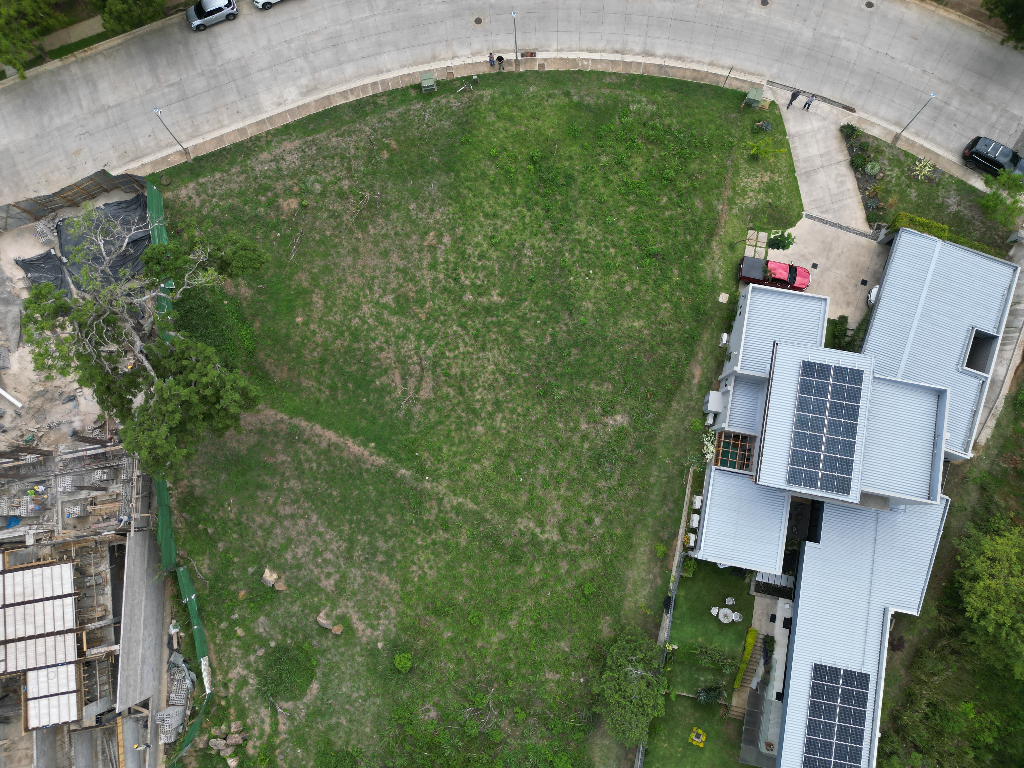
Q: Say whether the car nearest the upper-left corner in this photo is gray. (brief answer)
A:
Yes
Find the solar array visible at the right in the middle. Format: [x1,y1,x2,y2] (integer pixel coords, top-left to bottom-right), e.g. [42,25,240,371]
[787,355,864,498]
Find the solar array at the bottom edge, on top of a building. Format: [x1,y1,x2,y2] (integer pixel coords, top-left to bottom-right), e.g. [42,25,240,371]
[801,657,870,768]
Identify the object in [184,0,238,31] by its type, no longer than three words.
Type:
car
